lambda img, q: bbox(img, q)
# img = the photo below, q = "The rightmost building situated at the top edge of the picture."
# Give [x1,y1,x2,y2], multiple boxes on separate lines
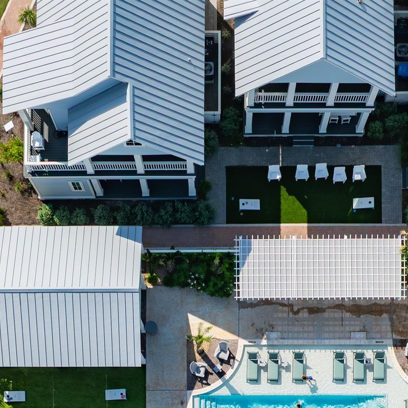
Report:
[223,0,396,146]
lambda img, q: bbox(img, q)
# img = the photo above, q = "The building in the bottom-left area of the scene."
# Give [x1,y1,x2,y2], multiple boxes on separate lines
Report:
[0,226,145,369]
